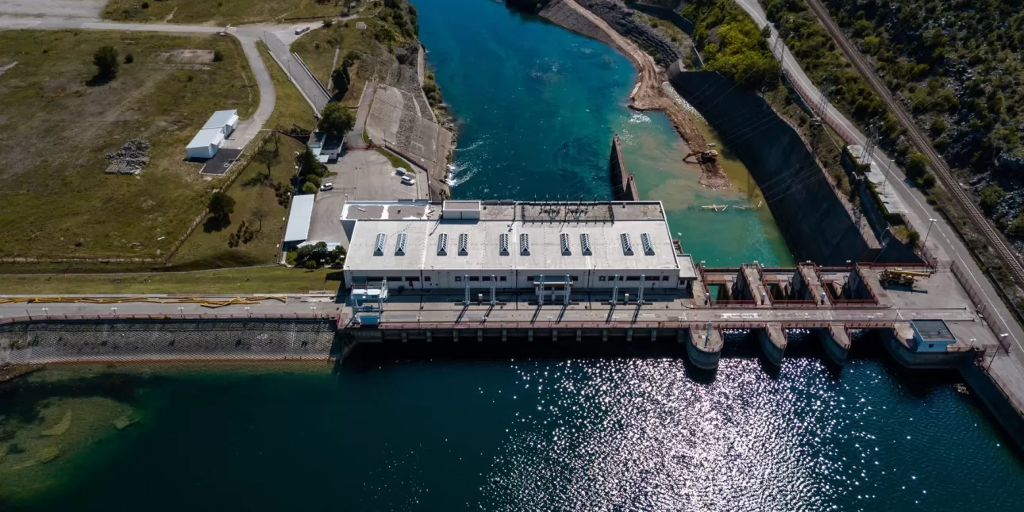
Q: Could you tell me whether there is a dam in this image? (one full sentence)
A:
Yes, this view includes a dam.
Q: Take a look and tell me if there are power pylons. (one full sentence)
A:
Yes, the frame does contain a power pylon.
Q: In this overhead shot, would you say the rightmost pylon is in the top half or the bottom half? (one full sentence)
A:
You can find the rightmost pylon in the top half.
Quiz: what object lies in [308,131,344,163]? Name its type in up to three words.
building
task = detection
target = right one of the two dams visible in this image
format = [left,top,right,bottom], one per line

[322,264,1024,405]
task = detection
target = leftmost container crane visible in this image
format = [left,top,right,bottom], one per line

[340,277,392,326]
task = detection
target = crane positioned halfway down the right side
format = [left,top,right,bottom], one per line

[876,268,932,288]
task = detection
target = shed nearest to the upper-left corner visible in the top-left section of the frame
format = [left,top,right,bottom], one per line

[185,107,245,157]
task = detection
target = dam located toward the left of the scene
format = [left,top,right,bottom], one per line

[0,318,329,419]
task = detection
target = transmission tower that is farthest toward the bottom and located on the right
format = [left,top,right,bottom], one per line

[859,129,879,162]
